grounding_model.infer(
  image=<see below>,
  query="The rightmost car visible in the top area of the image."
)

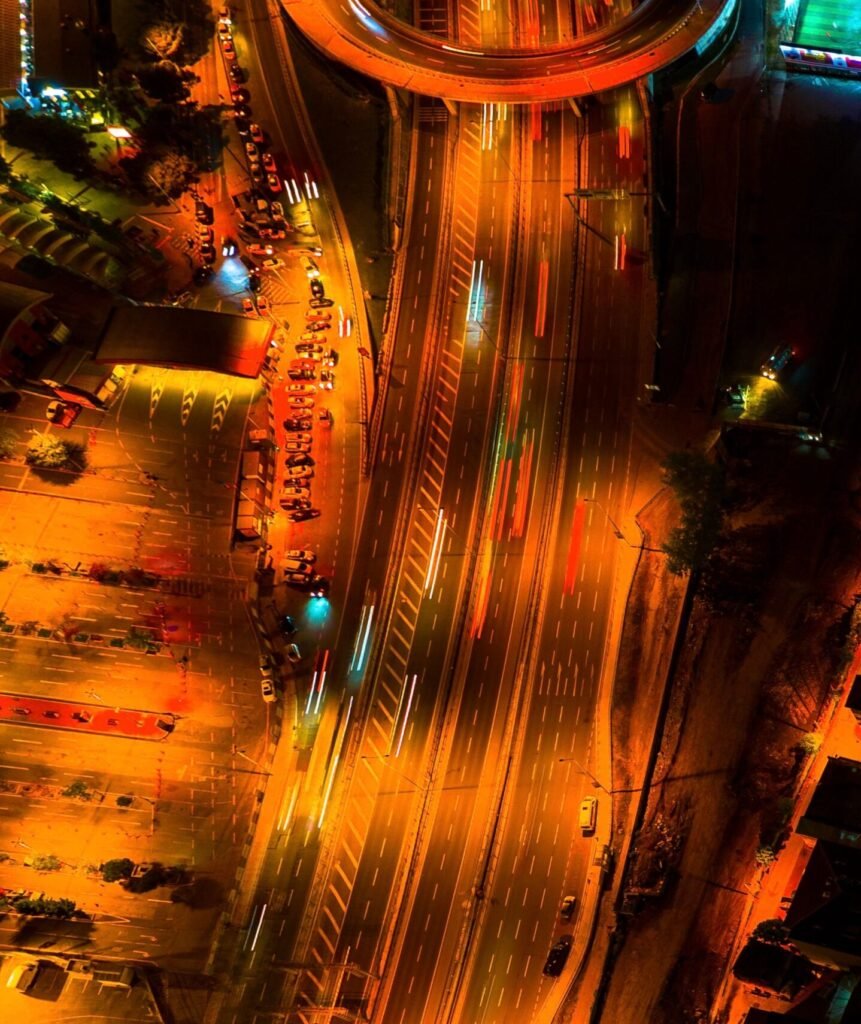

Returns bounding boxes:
[765,346,787,373]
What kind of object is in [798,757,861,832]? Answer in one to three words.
house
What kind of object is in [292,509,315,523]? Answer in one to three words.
car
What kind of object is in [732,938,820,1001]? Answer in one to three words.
house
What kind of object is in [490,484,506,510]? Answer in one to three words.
vehicle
